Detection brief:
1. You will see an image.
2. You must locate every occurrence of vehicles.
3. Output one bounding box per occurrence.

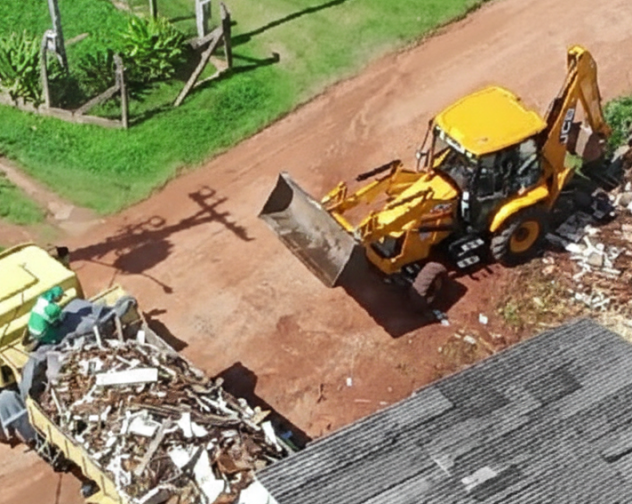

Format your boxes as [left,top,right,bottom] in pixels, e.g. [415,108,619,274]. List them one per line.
[256,44,615,303]
[0,236,207,504]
